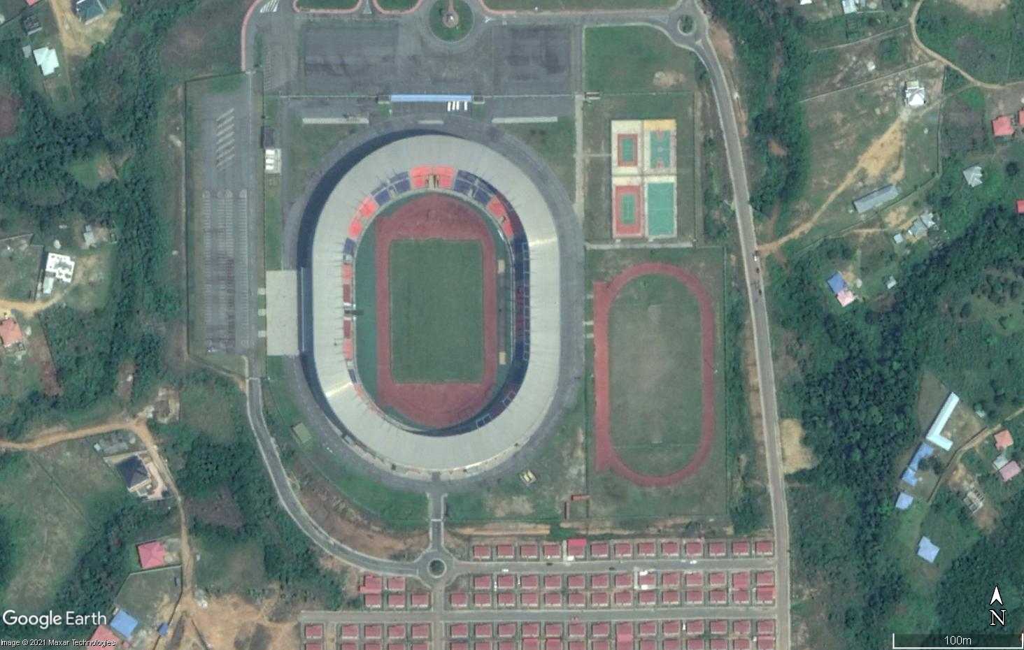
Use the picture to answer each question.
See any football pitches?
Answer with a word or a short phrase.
Yes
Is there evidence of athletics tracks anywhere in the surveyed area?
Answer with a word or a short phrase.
Yes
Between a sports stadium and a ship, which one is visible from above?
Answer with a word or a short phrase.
sports stadium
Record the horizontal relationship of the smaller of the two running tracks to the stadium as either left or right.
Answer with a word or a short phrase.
on its right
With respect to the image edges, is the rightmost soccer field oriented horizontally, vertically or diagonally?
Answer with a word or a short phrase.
vertically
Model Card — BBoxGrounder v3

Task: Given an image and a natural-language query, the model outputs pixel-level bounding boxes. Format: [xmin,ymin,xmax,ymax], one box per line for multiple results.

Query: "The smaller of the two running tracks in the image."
[593,262,715,487]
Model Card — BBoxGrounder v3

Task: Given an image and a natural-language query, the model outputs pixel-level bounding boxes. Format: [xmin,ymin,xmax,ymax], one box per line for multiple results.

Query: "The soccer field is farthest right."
[610,275,703,476]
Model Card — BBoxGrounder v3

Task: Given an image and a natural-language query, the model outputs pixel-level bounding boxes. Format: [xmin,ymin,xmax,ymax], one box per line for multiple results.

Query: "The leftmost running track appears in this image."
[356,191,514,430]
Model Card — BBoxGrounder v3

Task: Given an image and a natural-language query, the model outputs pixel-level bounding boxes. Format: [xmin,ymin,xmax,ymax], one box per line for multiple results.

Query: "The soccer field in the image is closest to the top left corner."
[389,239,484,384]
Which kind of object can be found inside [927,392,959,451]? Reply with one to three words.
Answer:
building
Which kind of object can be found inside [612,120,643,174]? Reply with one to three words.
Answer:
tennis court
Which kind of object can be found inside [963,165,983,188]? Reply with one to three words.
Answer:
house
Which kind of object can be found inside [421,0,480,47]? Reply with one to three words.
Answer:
roundabout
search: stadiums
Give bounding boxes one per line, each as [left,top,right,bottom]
[301,134,561,482]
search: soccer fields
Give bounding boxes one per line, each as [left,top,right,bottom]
[389,239,484,384]
[610,275,703,476]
